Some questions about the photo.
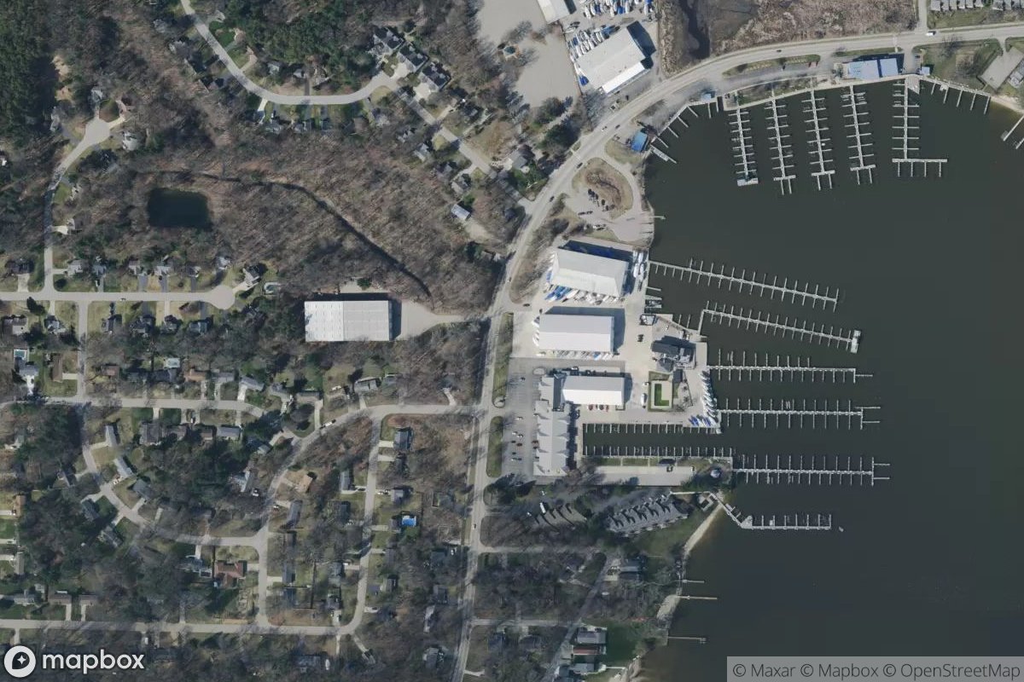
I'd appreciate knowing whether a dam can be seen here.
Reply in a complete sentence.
No, I find no dam anywhere in the image.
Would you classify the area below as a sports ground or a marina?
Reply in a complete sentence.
The picture captures a marina.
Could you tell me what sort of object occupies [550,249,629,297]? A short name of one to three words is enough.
shed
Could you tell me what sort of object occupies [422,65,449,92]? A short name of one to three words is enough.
house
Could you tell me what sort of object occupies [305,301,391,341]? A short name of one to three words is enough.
building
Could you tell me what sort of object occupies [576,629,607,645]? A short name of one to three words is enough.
house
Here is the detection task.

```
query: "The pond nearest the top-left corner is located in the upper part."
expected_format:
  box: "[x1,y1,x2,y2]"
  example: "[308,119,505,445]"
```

[147,187,212,229]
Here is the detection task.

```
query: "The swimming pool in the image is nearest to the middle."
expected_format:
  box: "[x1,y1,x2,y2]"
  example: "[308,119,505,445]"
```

[652,381,672,408]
